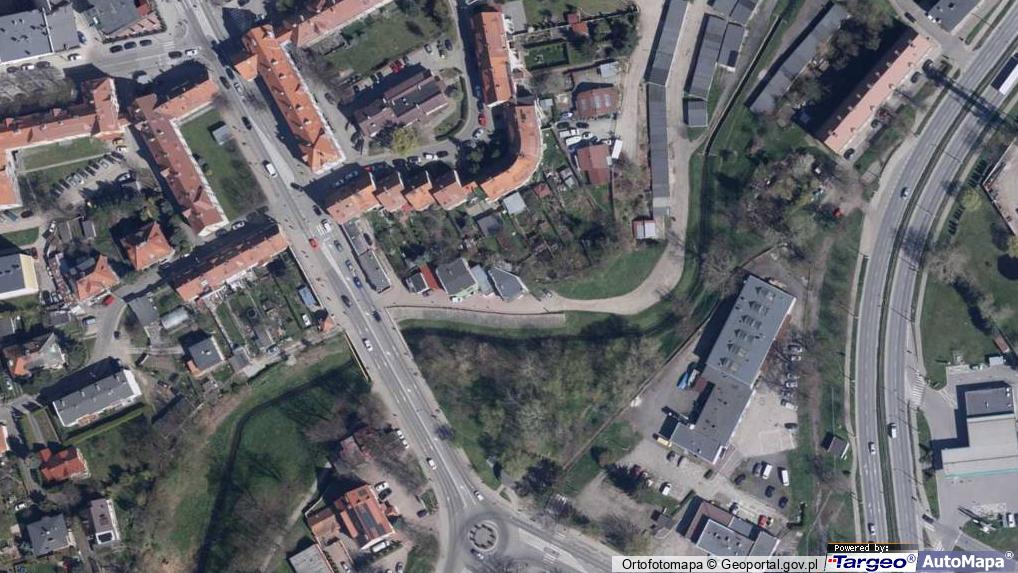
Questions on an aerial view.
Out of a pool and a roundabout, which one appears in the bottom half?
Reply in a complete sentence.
The one visible in the bottom half is a roundabout.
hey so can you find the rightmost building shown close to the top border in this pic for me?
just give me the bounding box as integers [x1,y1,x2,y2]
[929,0,985,35]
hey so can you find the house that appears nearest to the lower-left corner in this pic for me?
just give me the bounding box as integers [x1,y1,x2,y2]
[27,515,76,555]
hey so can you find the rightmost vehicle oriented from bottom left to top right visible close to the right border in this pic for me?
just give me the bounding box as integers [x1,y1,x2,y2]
[996,62,1018,92]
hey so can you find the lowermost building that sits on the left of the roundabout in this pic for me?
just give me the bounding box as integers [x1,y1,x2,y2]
[289,544,334,573]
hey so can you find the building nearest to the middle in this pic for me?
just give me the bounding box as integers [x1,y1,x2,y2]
[489,267,529,302]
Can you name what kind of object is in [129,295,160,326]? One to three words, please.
shed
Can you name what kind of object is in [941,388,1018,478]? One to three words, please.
gas station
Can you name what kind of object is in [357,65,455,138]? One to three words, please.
building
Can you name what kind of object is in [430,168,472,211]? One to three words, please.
house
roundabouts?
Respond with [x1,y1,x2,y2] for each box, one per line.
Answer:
[451,505,514,568]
